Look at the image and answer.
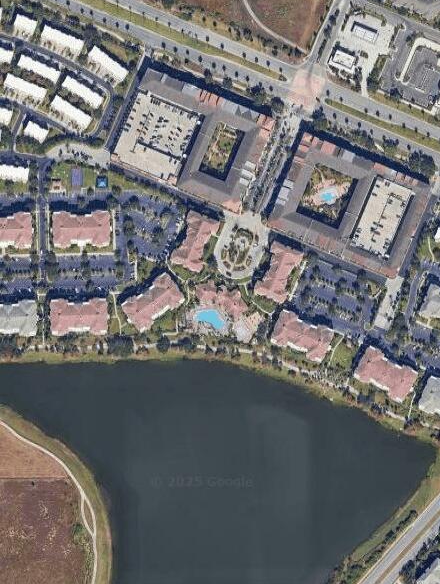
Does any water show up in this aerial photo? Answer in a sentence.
Yes, the picture does contain water.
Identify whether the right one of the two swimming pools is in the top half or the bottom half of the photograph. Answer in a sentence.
The right one of the two swimming pools sits in the top half of the picture.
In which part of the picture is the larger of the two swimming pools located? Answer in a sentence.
The larger of the two swimming pools is in the center part of the image.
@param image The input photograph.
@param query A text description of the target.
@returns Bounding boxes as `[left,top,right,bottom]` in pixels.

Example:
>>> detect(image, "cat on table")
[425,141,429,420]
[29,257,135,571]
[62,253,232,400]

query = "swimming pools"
[185,304,240,343]
[311,187,340,208]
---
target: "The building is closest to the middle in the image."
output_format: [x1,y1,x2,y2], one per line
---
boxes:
[193,280,250,318]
